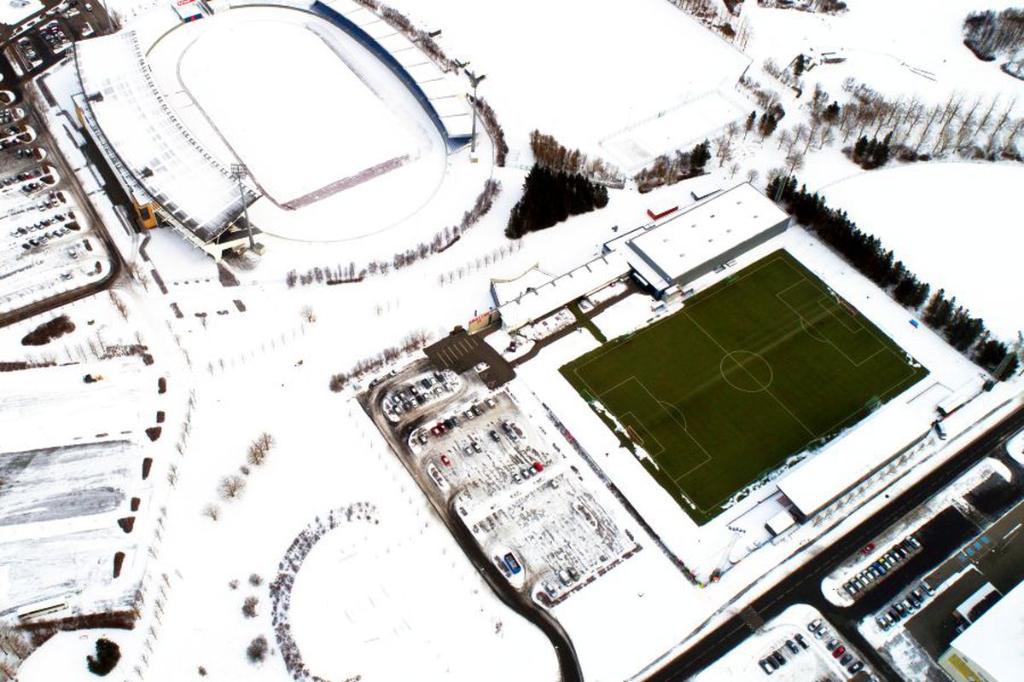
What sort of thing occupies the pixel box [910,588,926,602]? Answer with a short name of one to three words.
car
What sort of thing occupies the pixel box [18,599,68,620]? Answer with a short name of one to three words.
building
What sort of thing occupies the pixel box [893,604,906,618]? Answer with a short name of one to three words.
vehicle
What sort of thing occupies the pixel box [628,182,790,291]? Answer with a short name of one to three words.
building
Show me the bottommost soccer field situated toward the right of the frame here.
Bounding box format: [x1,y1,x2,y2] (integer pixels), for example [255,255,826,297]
[559,247,929,525]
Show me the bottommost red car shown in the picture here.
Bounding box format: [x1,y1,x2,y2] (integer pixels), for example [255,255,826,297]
[832,646,846,659]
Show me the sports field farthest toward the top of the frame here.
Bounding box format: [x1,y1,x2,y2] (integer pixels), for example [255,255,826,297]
[599,91,751,175]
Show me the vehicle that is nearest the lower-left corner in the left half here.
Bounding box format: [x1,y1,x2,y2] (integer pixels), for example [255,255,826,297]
[82,372,106,384]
